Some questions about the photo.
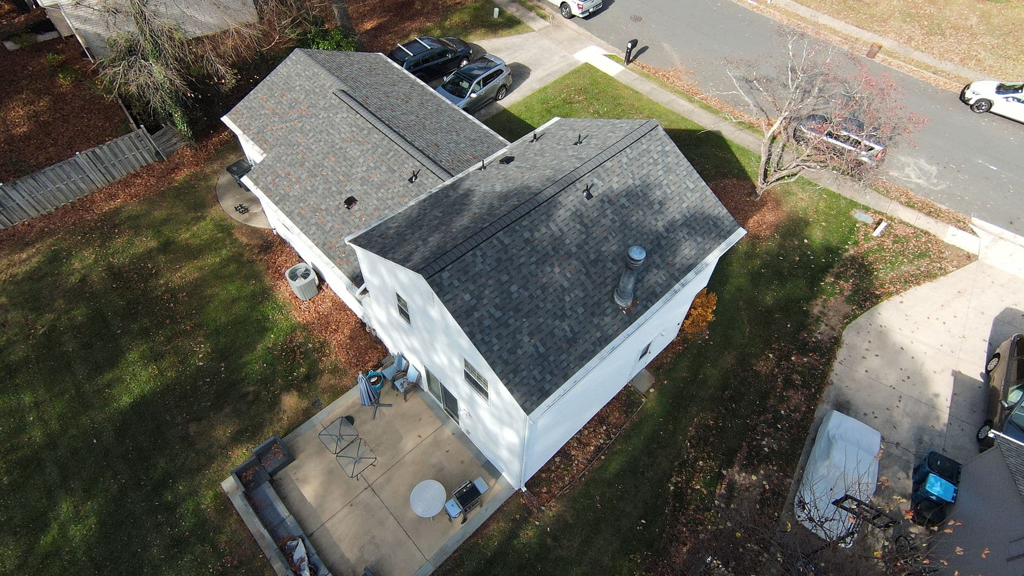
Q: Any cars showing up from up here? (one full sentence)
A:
Yes, you can see a car in this photo.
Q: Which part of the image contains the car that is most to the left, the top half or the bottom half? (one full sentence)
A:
The car that is most to the left sits in the top half of the picture.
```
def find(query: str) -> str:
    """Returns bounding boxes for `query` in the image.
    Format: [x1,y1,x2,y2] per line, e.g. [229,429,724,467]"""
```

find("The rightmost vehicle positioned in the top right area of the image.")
[960,73,1024,125]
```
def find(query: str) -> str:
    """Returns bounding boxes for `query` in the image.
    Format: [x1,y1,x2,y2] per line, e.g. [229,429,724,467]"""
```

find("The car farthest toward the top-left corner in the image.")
[390,30,474,81]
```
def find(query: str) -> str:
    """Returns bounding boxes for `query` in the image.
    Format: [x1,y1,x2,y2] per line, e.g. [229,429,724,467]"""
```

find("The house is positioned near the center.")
[220,49,748,499]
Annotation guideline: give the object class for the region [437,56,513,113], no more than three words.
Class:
car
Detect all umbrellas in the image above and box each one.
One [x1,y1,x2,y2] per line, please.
[361,368,391,418]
